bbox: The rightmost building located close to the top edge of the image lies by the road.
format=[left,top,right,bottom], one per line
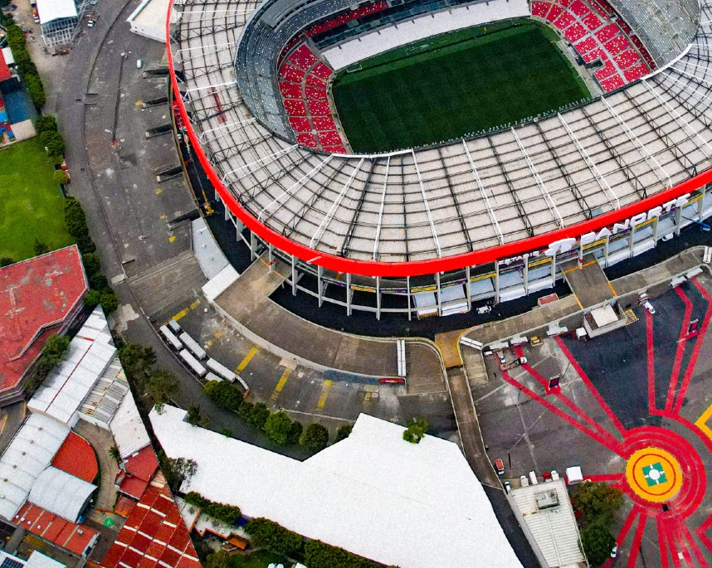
[128,0,181,55]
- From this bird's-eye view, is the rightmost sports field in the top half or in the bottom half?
top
